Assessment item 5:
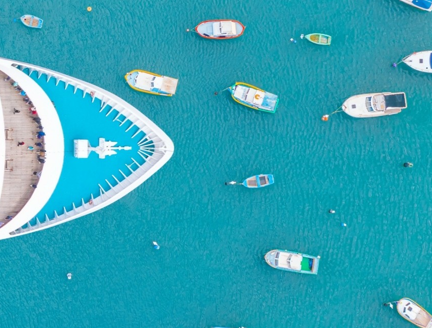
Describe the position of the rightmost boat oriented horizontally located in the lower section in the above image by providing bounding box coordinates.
[264,250,322,275]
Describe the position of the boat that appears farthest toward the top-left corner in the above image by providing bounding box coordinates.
[16,14,44,28]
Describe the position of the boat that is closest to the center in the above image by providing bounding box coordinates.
[233,173,275,188]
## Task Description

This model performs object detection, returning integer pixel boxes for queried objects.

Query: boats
[396,51,432,73]
[233,173,275,188]
[395,0,432,14]
[16,14,44,28]
[391,299,432,328]
[306,33,332,45]
[224,81,280,114]
[124,70,179,99]
[328,89,408,119]
[264,250,322,275]
[190,16,248,40]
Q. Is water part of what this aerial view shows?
Yes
